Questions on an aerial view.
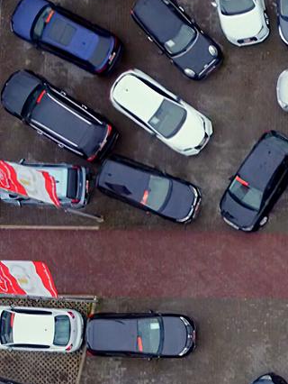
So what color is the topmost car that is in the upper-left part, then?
blue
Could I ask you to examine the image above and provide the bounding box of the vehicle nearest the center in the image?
[97,153,202,225]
